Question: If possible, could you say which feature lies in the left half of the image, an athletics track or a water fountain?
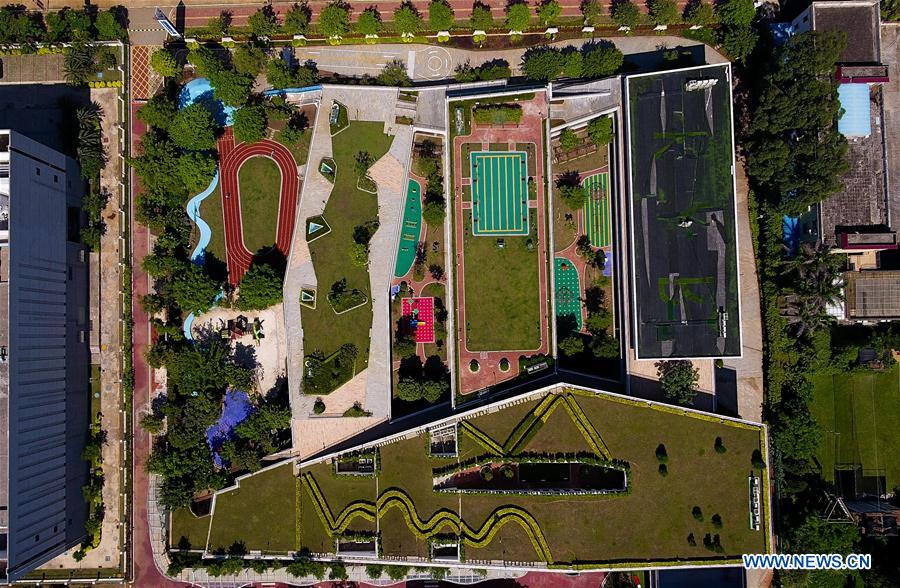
athletics track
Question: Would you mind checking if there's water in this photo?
No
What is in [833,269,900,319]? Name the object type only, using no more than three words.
building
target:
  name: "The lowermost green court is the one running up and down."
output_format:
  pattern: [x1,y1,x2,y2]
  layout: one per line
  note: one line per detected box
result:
[553,254,582,333]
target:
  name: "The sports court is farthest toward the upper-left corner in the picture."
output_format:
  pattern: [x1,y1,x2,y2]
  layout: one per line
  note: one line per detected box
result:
[396,177,423,278]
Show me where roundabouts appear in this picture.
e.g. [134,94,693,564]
[417,47,451,80]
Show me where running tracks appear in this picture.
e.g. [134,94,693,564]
[217,127,300,287]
